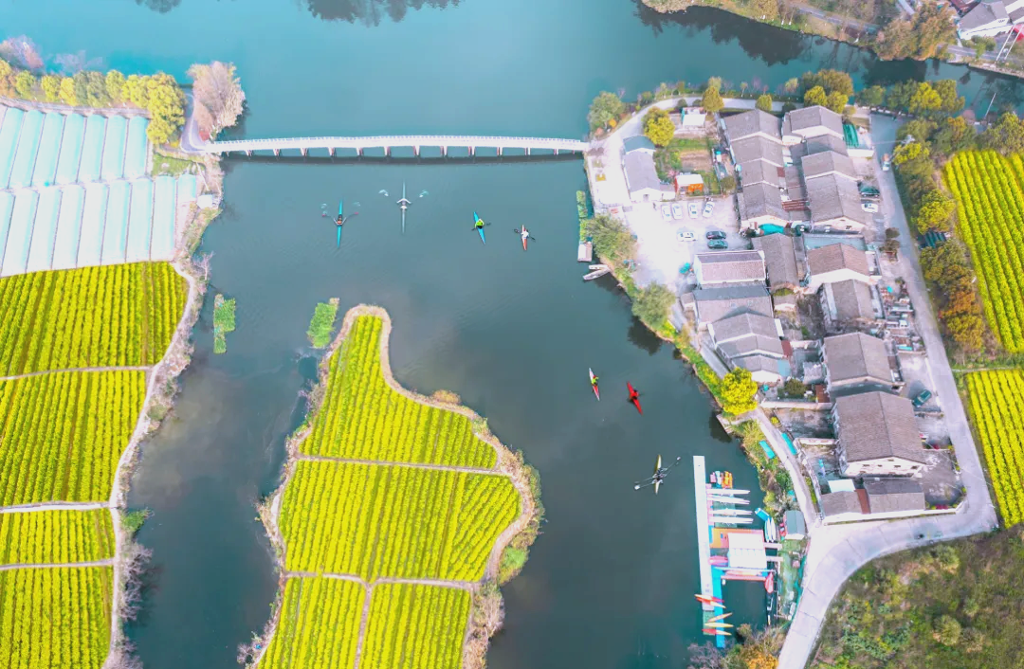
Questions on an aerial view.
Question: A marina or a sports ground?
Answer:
marina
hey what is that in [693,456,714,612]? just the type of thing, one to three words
pier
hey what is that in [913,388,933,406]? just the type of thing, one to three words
car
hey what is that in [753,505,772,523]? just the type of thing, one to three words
boat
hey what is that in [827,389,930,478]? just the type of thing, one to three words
house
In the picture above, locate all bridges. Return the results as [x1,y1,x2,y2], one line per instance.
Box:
[203,135,587,156]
